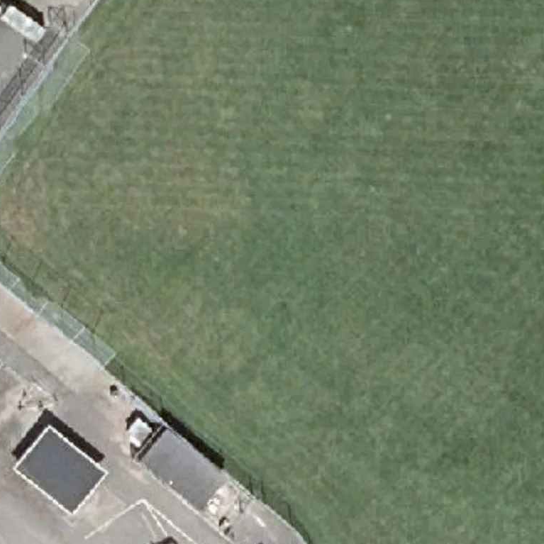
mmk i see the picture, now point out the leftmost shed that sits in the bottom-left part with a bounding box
[14,424,107,515]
